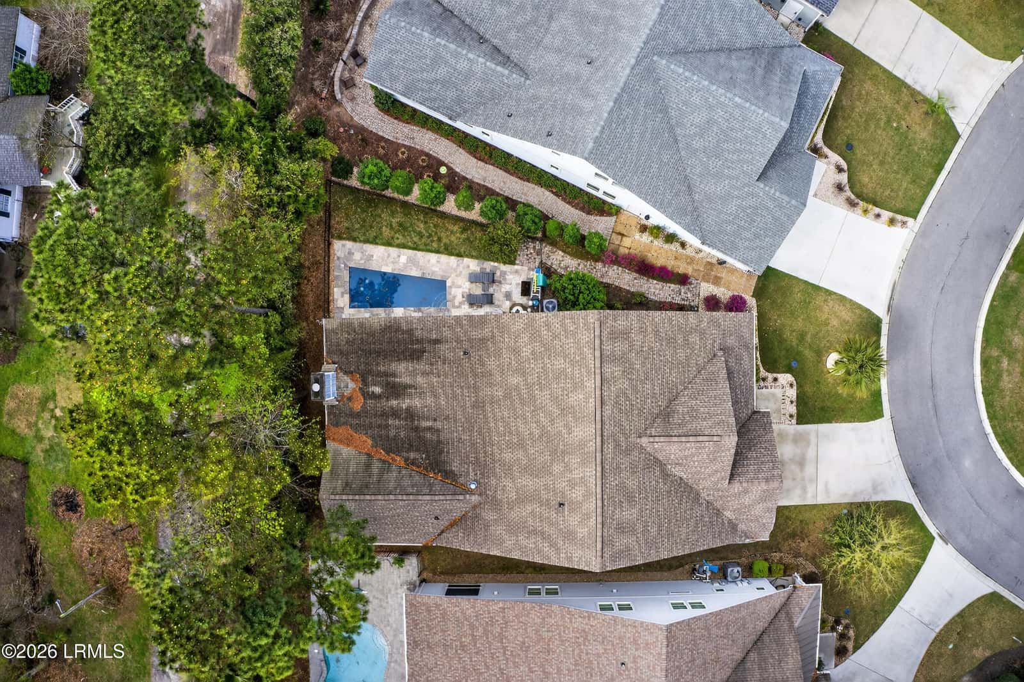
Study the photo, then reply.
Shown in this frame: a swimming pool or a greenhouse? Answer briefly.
swimming pool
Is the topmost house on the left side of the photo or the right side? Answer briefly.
right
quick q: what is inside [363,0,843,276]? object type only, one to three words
house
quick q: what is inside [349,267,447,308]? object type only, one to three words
swimming pool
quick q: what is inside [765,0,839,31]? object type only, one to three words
house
